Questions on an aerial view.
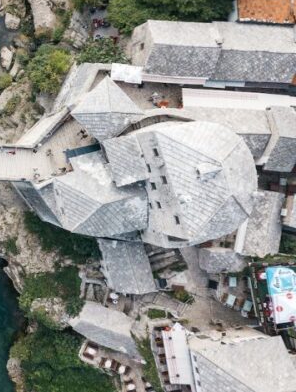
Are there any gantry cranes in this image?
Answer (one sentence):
No, there appears to be no gantry crane in this shot.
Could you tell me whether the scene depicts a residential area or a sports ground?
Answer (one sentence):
This looks like a residential area.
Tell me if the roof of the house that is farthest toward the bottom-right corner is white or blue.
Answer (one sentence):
From above, the roof of the house that is farthest toward the bottom-right corner appears white.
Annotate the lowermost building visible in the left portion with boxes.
[59,299,145,362]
